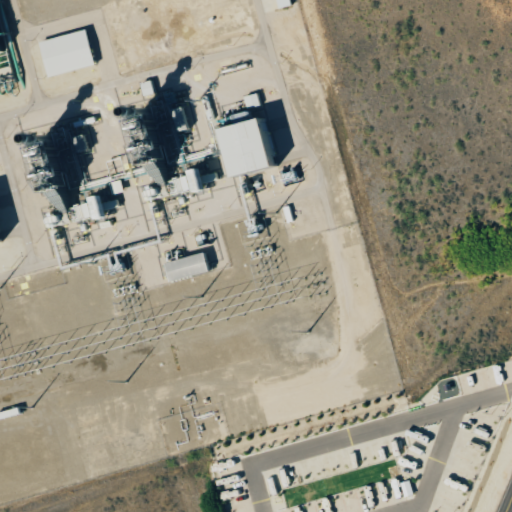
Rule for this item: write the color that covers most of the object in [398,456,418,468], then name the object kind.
white vehicle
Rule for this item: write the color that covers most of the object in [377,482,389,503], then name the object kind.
white vehicle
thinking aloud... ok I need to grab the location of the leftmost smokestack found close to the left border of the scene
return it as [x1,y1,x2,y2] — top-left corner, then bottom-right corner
[12,130,49,145]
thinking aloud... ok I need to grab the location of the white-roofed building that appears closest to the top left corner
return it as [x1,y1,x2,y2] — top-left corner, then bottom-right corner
[40,30,96,77]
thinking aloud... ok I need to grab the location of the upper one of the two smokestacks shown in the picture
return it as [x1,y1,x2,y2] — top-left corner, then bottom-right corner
[112,104,148,118]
